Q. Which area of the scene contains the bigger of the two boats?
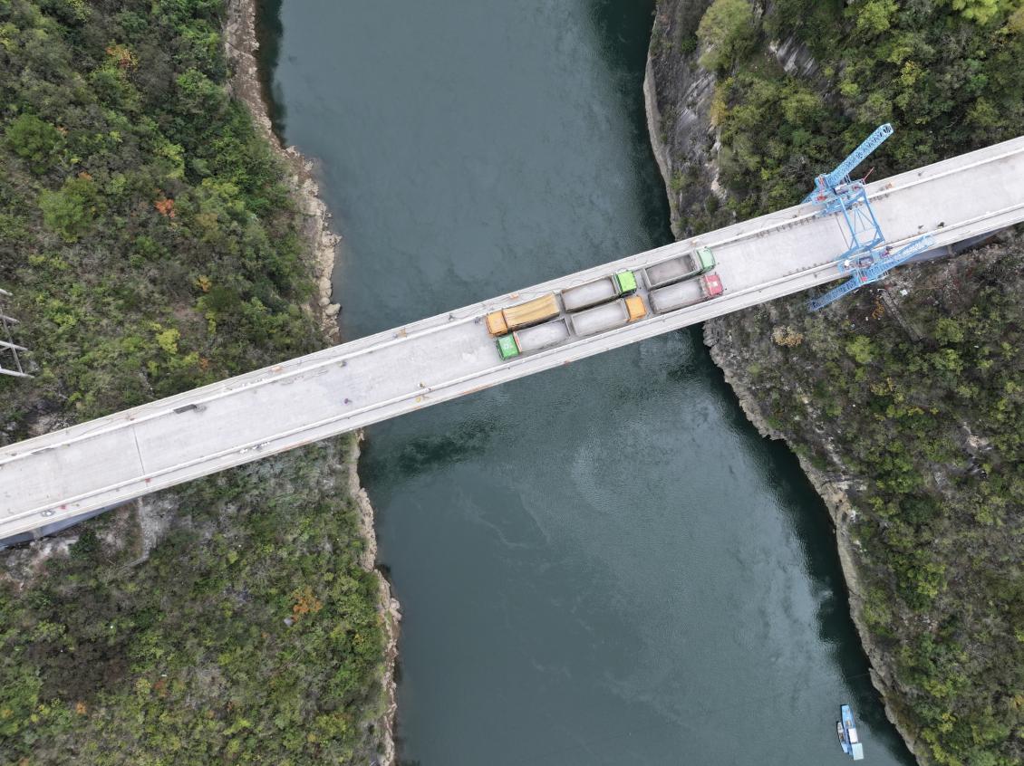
bottom right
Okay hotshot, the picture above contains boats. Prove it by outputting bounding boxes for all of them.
[837,722,851,753]
[841,705,864,760]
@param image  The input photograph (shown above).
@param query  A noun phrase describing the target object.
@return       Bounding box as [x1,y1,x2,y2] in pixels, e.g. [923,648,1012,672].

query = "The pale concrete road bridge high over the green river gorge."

[0,135,1024,547]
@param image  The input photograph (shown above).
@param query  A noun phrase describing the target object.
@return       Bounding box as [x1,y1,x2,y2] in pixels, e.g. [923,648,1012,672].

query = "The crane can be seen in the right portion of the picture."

[796,126,933,309]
